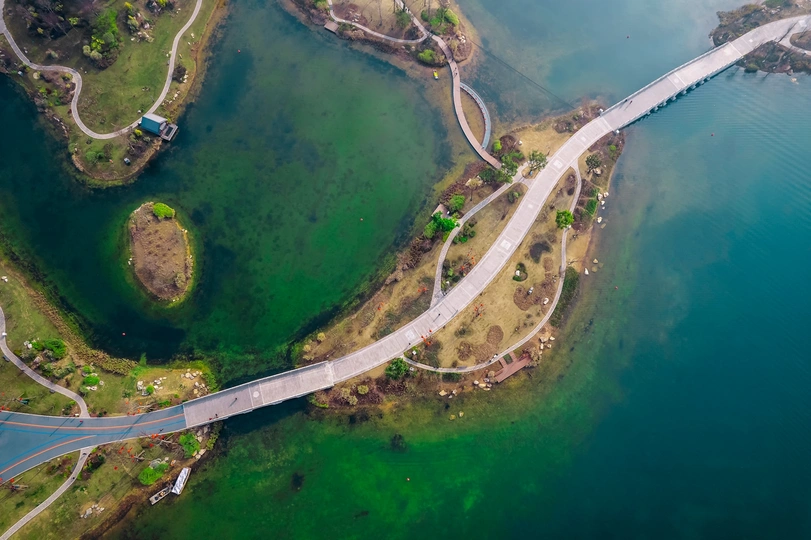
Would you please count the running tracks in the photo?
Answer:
0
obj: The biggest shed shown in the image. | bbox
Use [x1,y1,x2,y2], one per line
[139,113,168,135]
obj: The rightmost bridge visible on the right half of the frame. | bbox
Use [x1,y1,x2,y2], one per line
[600,40,744,131]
